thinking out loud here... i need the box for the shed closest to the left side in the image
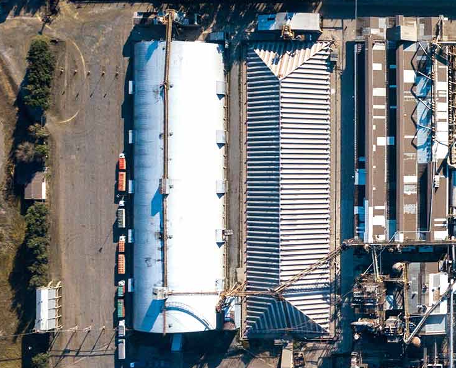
[24,171,49,200]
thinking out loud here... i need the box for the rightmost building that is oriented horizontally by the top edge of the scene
[258,14,329,35]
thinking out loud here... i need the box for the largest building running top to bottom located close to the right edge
[355,15,453,241]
